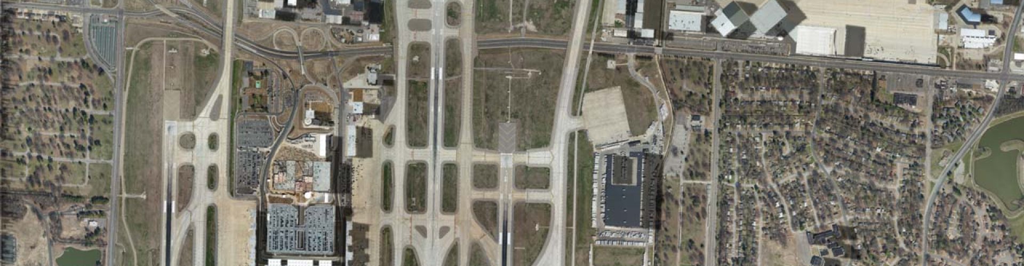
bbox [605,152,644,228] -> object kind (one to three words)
building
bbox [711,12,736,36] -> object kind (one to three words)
hangar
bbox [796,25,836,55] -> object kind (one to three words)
building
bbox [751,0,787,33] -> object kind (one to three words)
hangar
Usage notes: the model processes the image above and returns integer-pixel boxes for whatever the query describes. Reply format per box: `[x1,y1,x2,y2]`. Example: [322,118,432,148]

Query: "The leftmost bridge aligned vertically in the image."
[222,17,240,53]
